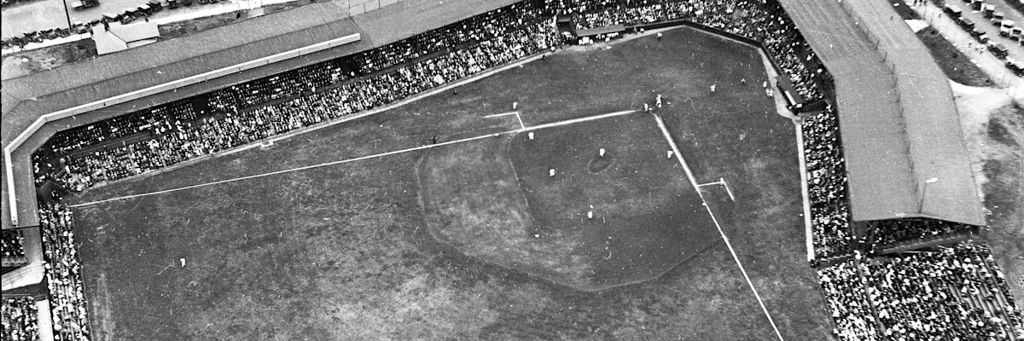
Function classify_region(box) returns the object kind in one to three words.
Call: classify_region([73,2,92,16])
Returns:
car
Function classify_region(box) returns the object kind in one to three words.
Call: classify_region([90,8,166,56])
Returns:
house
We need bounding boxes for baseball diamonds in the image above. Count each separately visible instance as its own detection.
[69,27,835,341]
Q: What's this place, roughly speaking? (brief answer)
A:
sports ground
